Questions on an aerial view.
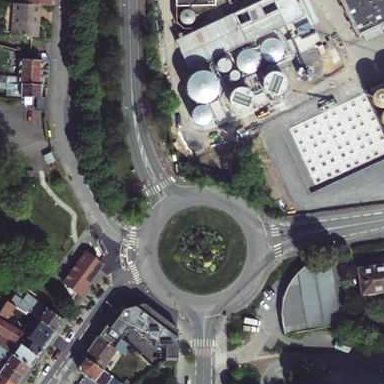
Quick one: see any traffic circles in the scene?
Yes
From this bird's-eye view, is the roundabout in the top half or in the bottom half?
bottom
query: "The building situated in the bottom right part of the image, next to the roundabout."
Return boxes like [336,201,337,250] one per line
[281,265,339,332]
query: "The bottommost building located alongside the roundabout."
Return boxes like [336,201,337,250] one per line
[110,304,178,364]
